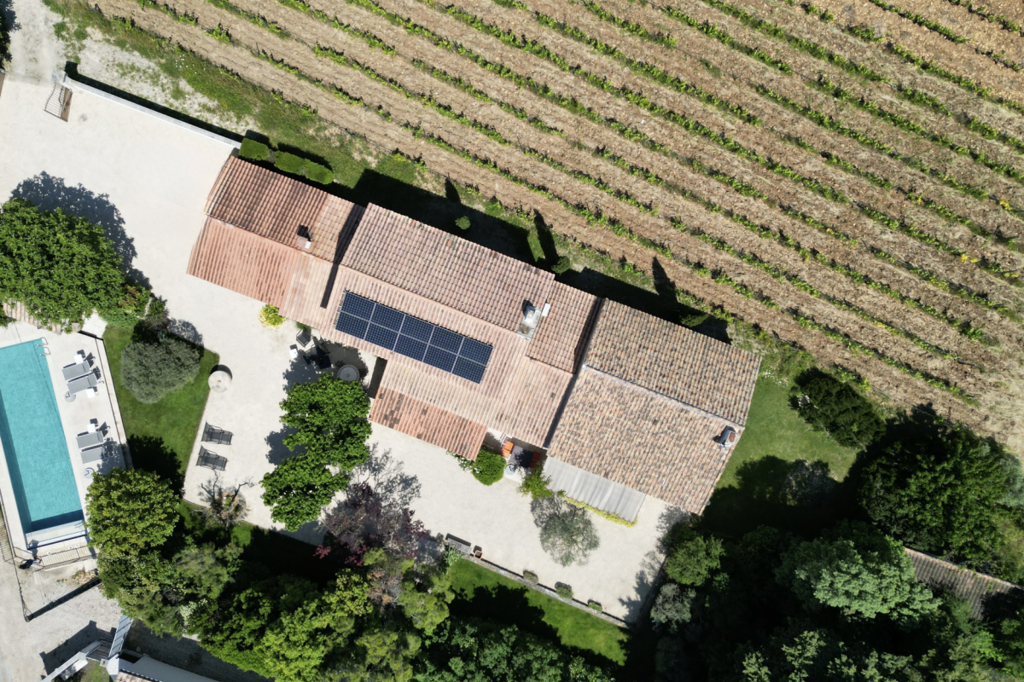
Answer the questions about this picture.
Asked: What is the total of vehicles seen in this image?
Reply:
zero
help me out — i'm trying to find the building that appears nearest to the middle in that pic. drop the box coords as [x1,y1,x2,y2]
[185,153,762,515]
